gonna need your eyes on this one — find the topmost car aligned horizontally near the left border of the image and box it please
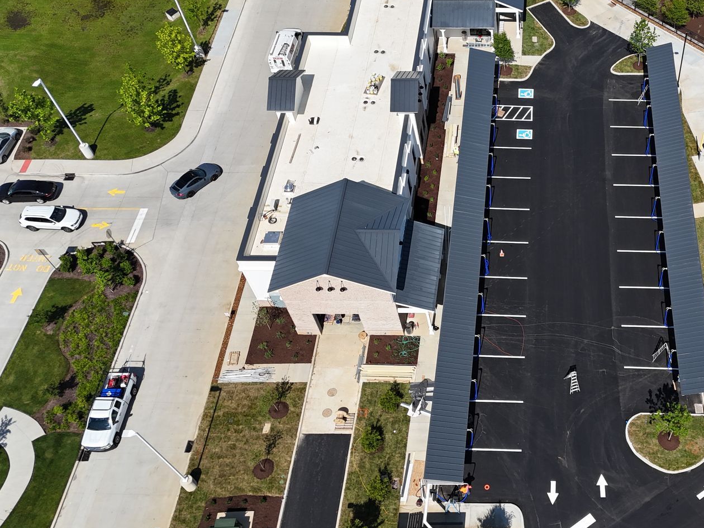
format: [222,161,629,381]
[0,178,60,205]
